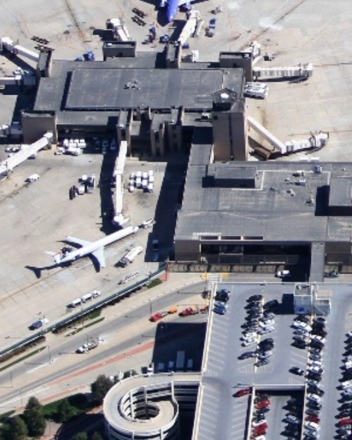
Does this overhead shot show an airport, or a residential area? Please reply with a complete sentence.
The picture captures an airport.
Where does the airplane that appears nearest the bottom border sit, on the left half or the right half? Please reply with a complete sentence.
The airplane that appears nearest the bottom border sits on the left side.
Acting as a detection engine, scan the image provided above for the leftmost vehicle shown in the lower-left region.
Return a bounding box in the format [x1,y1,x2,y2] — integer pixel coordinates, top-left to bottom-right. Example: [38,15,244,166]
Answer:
[30,315,45,329]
